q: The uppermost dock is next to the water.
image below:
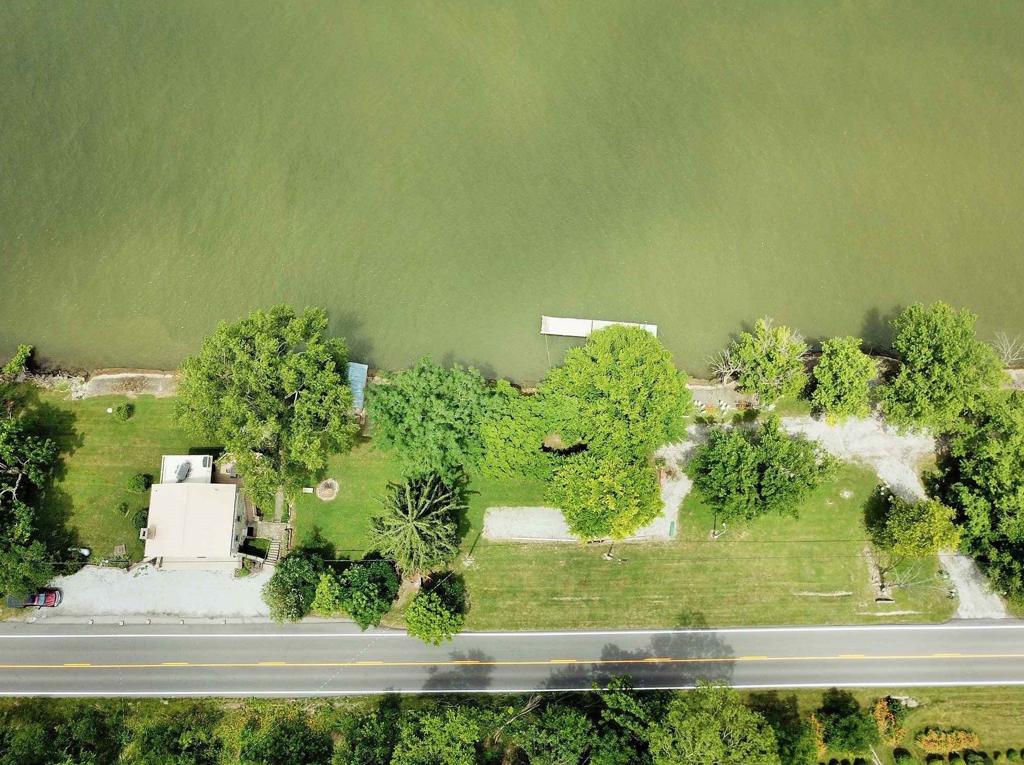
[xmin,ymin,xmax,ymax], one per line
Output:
[540,316,658,344]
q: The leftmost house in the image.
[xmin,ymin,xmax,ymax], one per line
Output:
[138,455,245,570]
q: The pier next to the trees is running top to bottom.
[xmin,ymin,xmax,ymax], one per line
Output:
[351,364,367,408]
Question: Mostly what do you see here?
water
